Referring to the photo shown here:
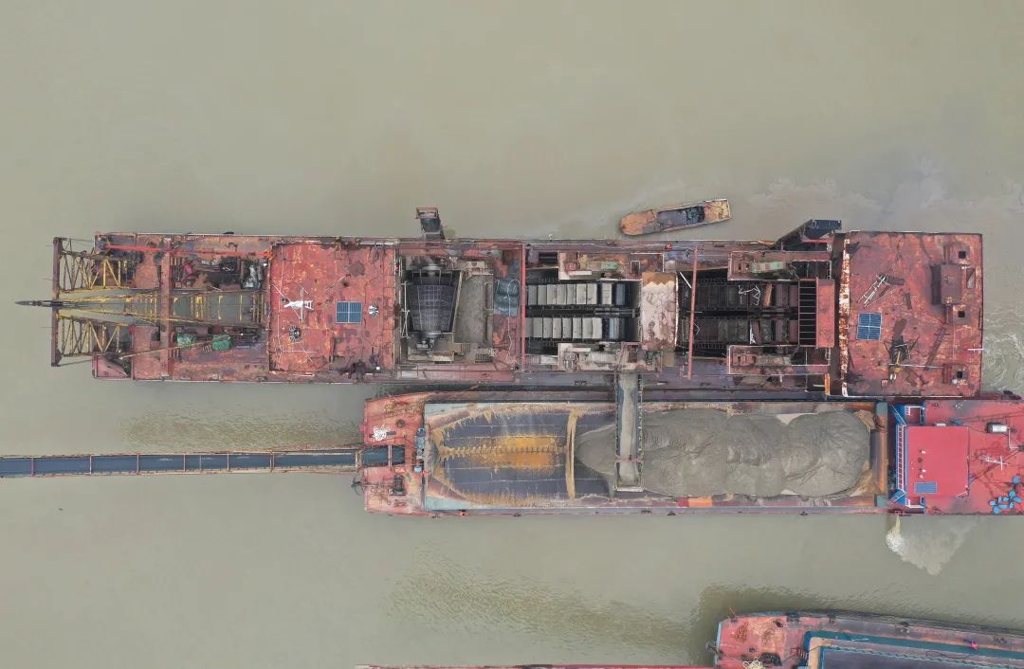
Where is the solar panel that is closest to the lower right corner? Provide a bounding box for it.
[914,482,937,494]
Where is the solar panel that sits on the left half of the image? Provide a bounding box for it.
[336,301,362,323]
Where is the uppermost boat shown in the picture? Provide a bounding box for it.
[619,199,731,235]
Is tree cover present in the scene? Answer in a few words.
No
